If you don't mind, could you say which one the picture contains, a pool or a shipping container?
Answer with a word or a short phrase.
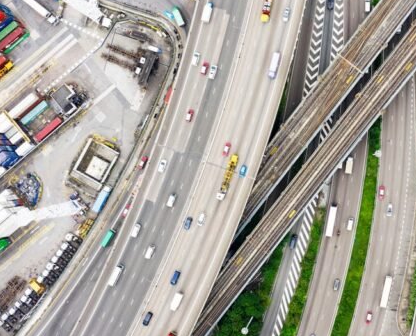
shipping container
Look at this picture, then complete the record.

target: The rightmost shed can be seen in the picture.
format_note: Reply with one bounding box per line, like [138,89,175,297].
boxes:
[133,45,159,82]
